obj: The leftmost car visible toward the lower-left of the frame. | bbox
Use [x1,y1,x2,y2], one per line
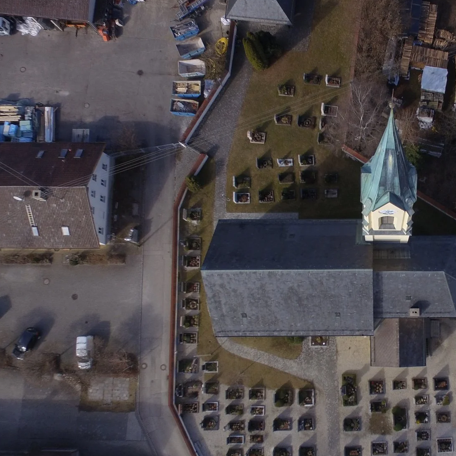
[12,327,42,360]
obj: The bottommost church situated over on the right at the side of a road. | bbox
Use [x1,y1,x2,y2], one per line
[201,92,456,368]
